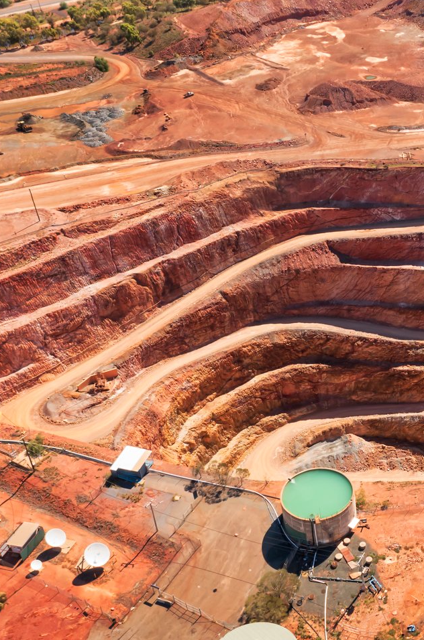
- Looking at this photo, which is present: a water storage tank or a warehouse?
water storage tank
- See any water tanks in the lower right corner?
Yes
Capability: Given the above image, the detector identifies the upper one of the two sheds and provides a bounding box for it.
[111,447,152,483]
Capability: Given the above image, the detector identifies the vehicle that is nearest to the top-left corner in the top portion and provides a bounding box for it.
[13,120,37,134]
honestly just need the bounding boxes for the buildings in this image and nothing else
[111,447,152,483]
[6,522,41,558]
